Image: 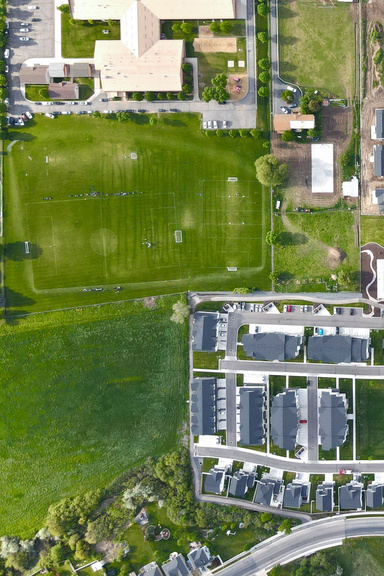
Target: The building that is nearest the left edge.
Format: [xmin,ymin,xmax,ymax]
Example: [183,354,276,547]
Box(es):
[18,65,52,85]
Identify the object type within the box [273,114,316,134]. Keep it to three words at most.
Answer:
house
